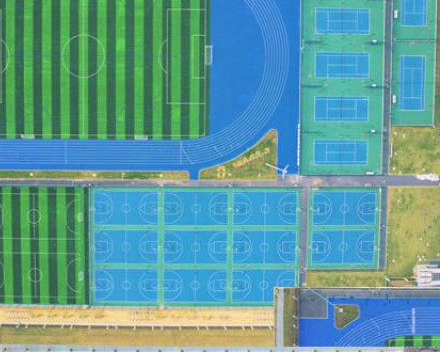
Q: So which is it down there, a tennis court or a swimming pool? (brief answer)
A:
tennis court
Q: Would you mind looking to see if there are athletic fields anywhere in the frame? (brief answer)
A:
Yes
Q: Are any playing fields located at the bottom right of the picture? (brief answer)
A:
Yes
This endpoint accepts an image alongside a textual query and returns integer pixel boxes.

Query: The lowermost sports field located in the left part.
[0,244,86,306]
